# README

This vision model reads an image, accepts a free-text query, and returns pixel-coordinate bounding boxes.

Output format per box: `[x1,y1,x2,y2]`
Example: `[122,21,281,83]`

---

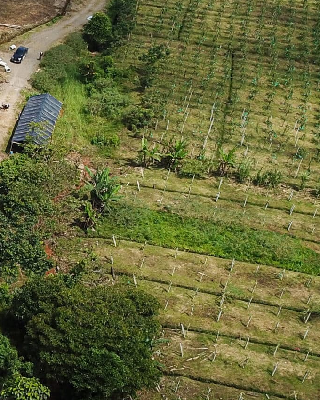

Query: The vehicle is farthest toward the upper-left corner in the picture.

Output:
[12,45,28,60]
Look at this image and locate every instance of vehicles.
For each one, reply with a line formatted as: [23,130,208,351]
[12,45,28,60]
[0,105,9,111]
